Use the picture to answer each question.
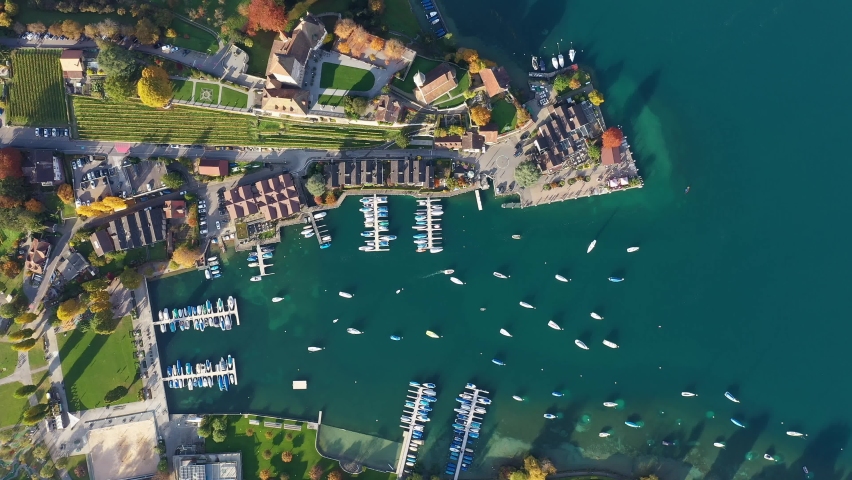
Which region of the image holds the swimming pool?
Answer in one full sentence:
You can find the swimming pool in the bottom area of the picture.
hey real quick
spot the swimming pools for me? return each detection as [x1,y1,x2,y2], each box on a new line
[318,424,401,472]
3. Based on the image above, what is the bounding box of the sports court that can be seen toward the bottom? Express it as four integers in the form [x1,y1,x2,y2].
[87,417,159,480]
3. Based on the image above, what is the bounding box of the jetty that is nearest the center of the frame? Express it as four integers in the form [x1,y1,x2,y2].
[417,197,442,250]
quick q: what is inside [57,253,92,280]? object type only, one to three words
house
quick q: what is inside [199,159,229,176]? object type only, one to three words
shed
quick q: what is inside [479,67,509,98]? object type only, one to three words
house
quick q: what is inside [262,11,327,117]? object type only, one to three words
building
